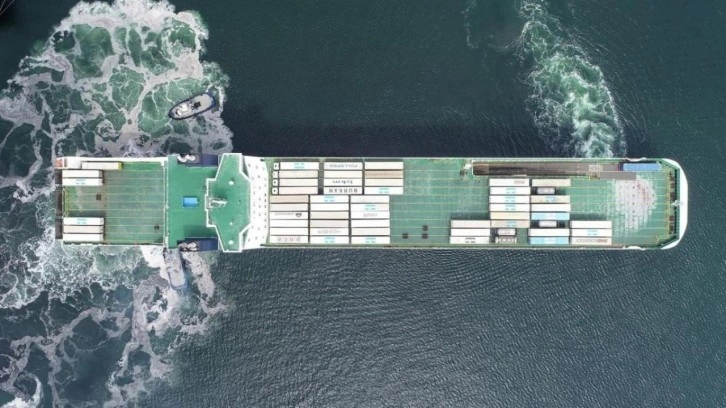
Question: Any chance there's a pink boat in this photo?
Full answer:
No, I can't see a single pink boat in this photo.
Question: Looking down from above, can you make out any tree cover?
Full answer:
No, the scene doesn't show any tree cover.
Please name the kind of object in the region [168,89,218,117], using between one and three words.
boat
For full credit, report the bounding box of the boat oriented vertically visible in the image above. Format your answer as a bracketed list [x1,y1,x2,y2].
[164,246,186,291]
